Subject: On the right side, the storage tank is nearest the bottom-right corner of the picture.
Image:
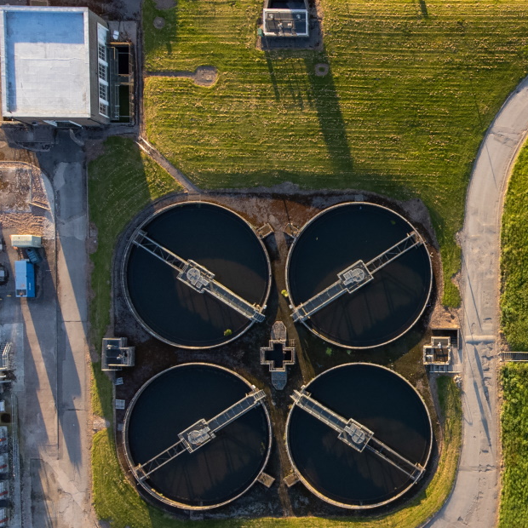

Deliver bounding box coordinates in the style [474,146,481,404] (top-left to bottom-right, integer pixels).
[285,362,435,510]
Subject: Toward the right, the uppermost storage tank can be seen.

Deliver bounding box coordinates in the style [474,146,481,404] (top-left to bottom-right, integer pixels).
[286,202,434,349]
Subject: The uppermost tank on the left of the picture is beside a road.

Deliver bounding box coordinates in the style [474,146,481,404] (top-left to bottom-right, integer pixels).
[123,201,274,350]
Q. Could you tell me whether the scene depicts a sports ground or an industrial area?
industrial area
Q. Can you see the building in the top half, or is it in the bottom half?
top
